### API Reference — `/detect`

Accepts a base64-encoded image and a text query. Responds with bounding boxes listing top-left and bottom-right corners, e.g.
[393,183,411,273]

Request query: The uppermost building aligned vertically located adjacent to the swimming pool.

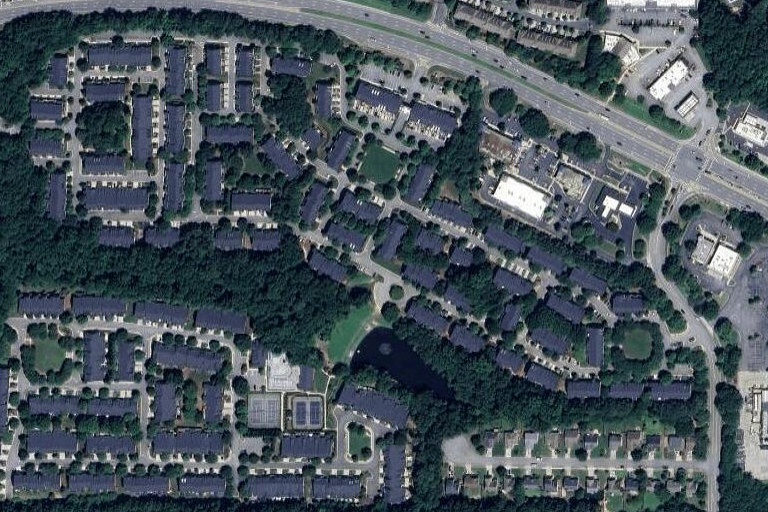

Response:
[252,340,265,365]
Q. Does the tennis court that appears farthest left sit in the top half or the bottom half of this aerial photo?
bottom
